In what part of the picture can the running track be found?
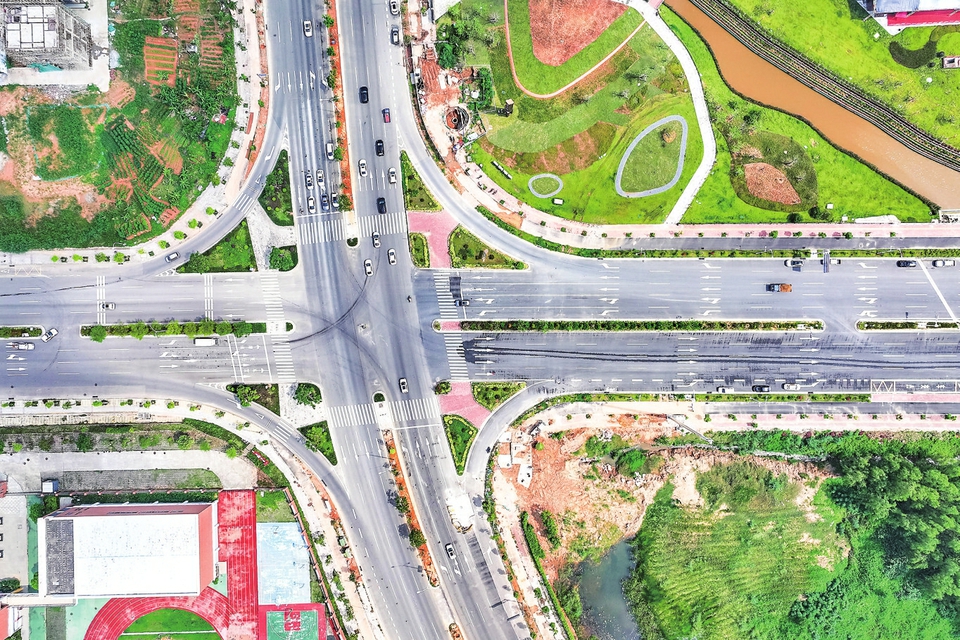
bottom left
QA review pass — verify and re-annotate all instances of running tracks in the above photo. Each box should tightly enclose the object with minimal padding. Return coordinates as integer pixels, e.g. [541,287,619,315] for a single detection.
[83,491,259,640]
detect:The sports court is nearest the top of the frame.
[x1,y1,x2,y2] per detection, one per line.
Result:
[258,522,311,604]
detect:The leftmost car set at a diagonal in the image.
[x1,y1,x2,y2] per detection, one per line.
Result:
[42,328,59,341]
